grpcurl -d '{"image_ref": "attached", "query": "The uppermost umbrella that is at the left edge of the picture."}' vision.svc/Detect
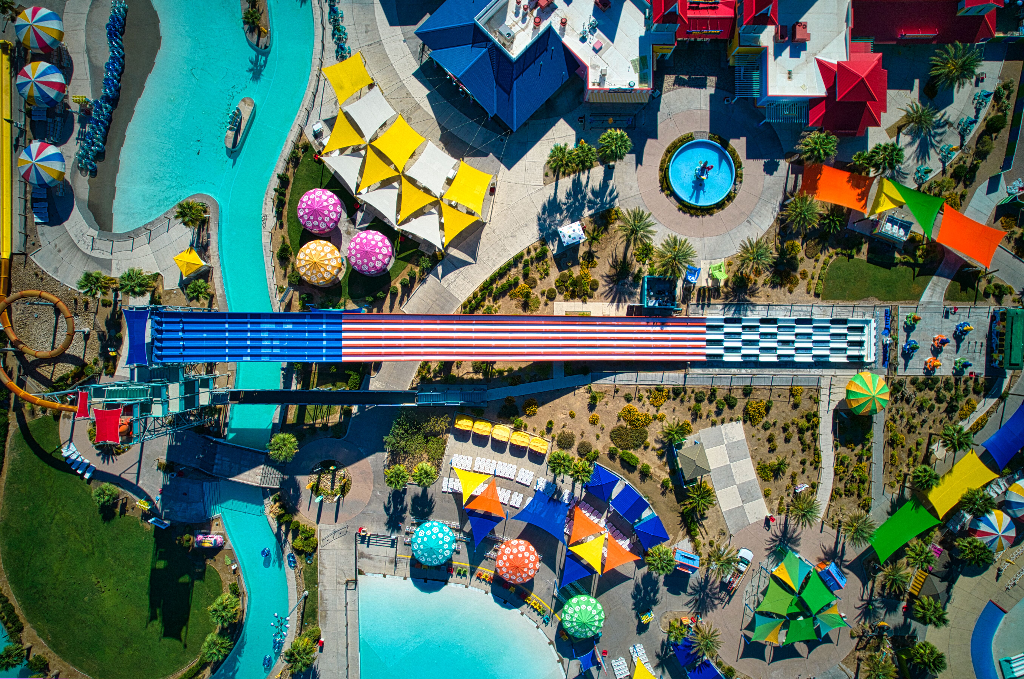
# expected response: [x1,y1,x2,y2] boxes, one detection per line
[15,5,66,55]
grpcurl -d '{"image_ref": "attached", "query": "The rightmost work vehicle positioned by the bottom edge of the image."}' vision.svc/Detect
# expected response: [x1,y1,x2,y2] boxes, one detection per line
[867,615,895,650]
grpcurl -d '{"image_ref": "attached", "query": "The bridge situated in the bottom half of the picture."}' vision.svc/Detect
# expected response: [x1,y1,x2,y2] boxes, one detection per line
[168,431,283,491]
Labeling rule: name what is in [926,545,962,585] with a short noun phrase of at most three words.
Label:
tent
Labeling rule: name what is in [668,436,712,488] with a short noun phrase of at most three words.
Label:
building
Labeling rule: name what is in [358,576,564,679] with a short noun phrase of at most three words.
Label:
swimming pool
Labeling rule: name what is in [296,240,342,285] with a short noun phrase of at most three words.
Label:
umbrella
